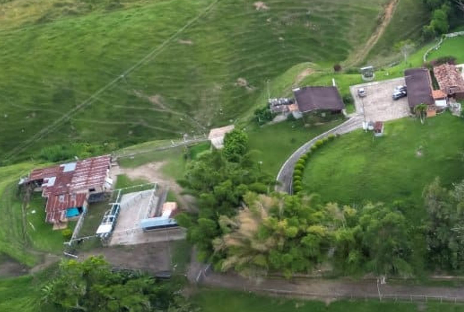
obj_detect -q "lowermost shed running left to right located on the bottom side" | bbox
[141,213,183,236]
